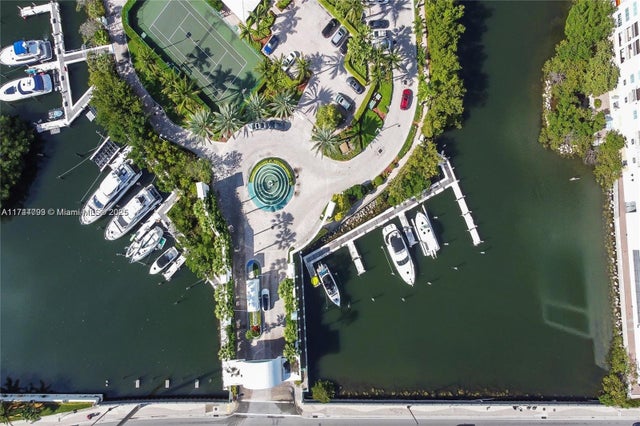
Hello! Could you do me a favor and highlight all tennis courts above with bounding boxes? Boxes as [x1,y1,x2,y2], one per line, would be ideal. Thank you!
[129,0,268,125]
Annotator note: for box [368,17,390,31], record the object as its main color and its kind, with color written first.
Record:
black vehicle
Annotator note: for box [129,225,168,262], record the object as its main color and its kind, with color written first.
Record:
white boat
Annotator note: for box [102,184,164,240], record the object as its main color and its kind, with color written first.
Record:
white boat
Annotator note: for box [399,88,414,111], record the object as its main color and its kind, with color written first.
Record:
red car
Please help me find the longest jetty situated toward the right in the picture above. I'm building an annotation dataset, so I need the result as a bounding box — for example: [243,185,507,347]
[304,155,482,284]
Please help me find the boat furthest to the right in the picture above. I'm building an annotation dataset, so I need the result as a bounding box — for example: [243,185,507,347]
[417,212,439,257]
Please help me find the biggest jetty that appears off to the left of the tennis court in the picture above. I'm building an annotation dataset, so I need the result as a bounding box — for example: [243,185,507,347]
[21,2,99,133]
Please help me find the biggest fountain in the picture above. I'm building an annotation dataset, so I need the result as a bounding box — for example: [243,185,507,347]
[248,156,295,212]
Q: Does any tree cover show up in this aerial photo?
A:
Yes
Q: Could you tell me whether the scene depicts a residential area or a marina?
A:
marina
